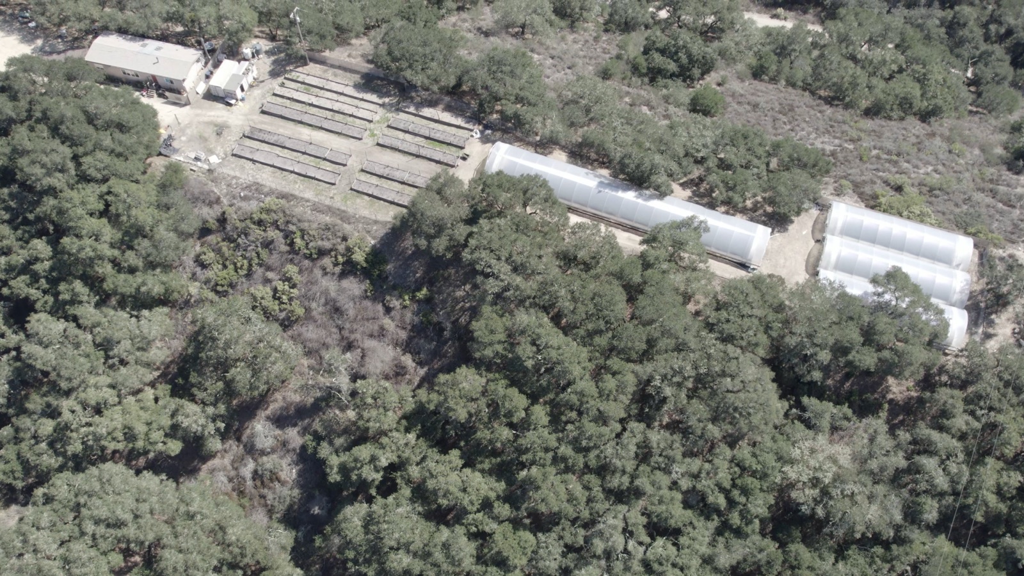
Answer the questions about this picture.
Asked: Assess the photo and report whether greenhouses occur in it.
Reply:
Yes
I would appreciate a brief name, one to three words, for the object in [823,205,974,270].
greenhouse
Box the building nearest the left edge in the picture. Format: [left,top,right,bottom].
[85,33,214,95]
